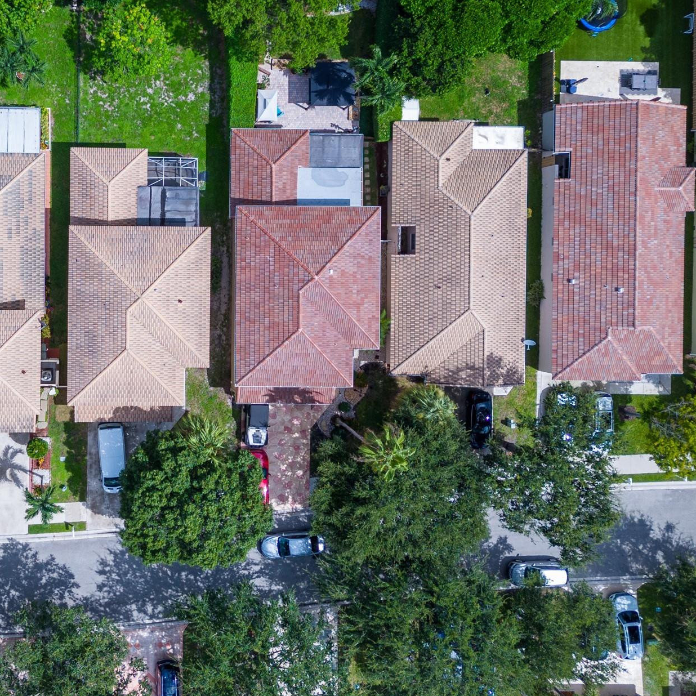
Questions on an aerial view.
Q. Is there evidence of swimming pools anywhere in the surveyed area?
No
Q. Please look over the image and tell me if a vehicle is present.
Yes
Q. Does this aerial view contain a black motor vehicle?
Yes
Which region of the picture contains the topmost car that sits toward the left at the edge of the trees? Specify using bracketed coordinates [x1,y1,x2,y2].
[240,405,270,450]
